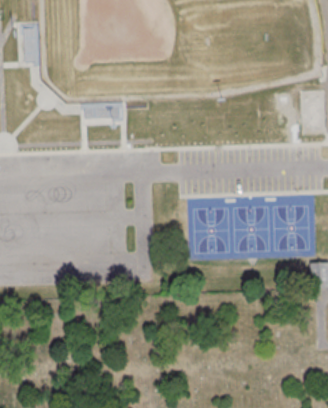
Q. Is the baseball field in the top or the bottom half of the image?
top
